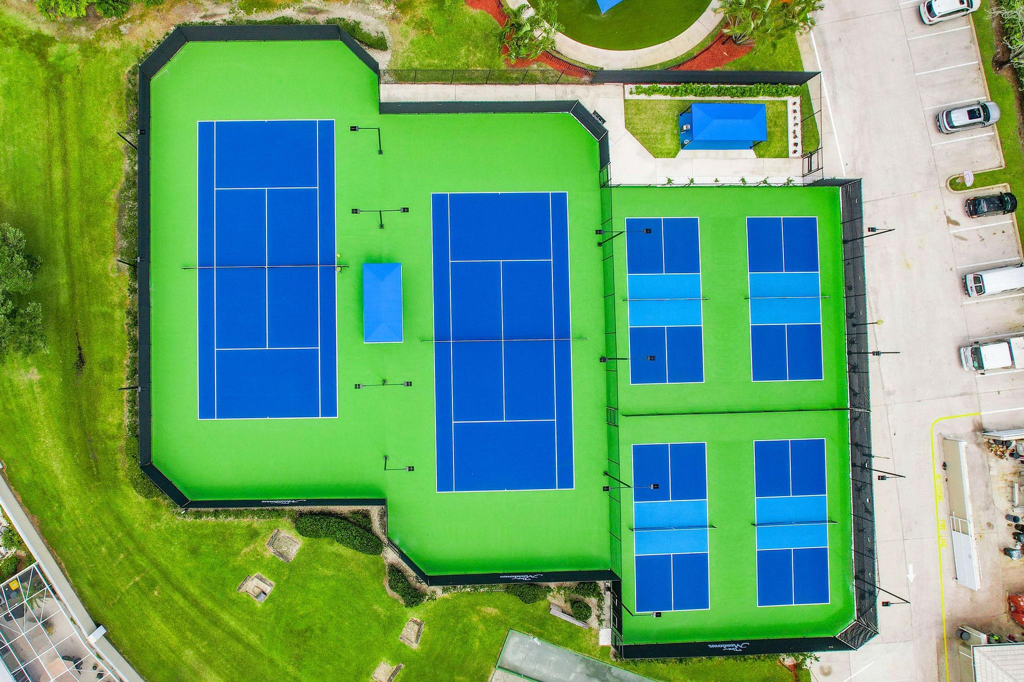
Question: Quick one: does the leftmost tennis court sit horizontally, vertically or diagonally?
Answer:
vertically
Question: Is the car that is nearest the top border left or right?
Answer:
right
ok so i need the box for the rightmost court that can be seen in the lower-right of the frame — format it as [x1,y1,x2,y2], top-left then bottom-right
[753,438,831,607]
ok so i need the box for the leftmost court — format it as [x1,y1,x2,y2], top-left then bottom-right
[196,119,338,421]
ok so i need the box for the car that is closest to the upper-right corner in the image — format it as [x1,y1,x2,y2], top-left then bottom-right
[920,0,979,27]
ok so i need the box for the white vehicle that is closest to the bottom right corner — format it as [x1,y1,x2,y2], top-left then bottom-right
[958,334,1024,375]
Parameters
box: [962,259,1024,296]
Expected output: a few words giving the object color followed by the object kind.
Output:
white van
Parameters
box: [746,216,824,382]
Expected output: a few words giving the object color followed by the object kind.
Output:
blue sports court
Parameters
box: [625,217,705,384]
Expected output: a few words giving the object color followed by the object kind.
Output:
blue sports court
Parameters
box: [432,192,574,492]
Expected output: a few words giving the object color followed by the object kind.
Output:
blue tennis court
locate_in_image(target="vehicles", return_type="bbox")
[965,186,1017,216]
[920,0,979,27]
[962,259,1024,296]
[935,100,997,134]
[958,334,1024,375]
